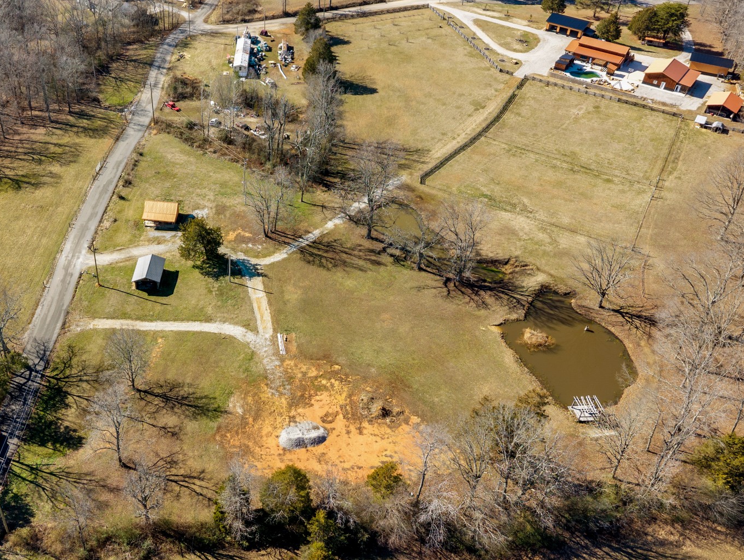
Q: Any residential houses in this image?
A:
Yes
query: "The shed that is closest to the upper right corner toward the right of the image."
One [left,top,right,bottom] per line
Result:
[688,52,734,75]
